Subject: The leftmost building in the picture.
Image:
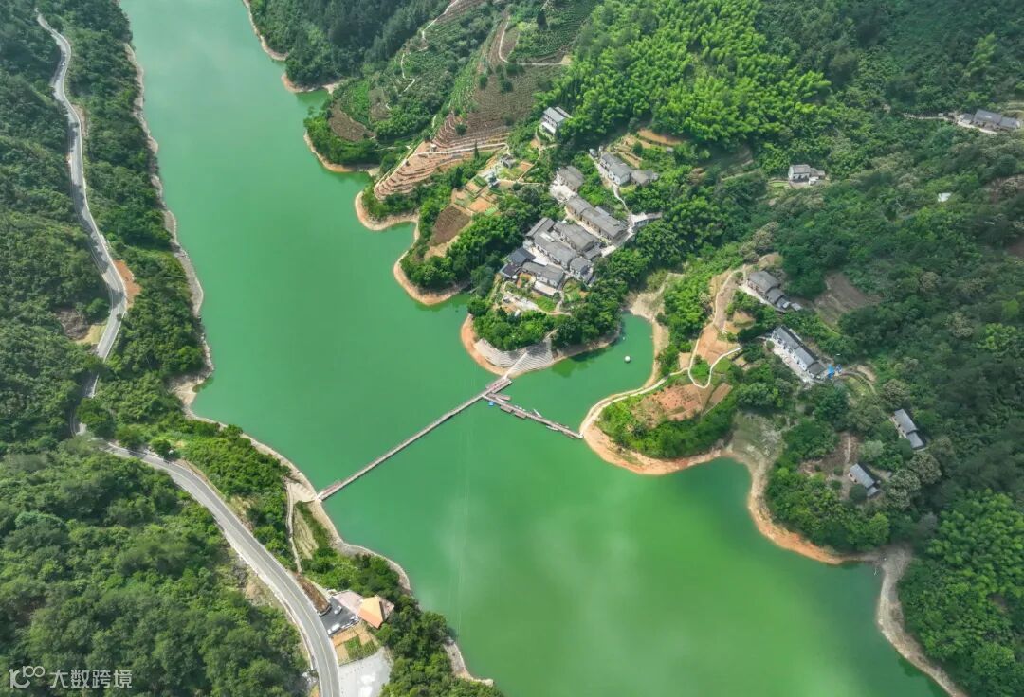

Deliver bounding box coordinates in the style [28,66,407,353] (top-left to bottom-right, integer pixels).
[359,597,387,630]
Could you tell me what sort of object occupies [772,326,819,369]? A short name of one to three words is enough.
house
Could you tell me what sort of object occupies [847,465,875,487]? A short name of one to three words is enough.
house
